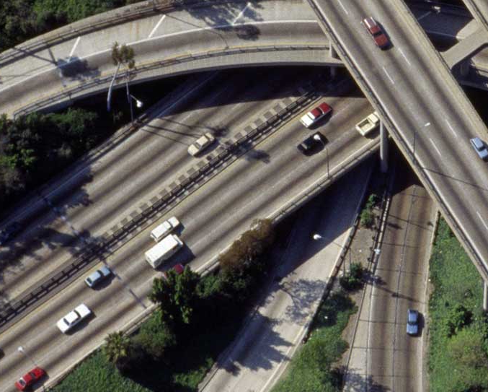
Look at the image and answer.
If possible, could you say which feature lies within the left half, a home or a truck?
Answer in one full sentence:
Looking within the left half, you will find a truck.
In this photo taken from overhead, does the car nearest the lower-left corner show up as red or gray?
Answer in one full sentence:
From above, the car nearest the lower-left corner appears red.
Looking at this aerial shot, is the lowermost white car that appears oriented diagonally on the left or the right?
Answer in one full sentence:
It is on the left.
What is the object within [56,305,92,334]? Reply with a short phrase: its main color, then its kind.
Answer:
white car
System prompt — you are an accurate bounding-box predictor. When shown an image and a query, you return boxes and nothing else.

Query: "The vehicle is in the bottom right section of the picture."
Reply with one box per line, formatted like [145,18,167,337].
[406,310,419,335]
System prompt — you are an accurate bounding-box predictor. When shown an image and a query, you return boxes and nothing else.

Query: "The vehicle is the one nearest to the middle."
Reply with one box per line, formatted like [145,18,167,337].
[185,133,216,158]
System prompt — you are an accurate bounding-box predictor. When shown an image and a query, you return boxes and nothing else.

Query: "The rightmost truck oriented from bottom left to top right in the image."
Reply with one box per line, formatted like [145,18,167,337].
[352,113,378,139]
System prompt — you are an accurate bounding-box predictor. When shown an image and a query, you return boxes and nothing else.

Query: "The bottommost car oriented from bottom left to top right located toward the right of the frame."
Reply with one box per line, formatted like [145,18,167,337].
[298,133,327,157]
